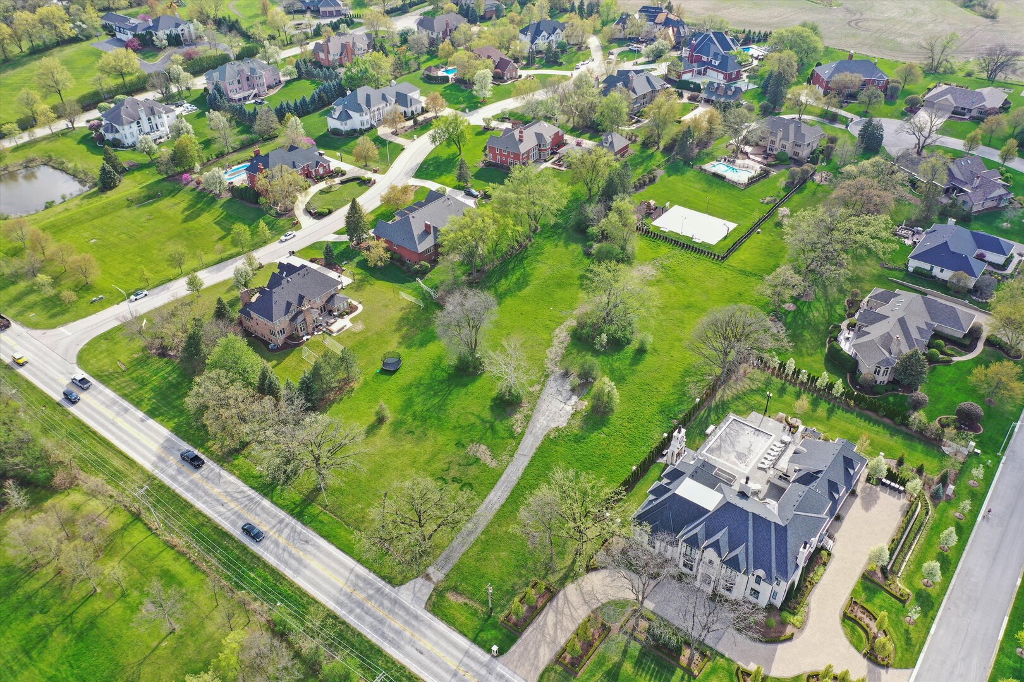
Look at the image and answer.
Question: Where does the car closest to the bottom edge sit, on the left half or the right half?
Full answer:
You can find the car closest to the bottom edge on the left side of the picture.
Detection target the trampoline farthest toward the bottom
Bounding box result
[381,355,402,374]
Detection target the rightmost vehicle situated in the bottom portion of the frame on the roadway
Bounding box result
[242,521,269,543]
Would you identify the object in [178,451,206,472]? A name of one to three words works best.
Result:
truck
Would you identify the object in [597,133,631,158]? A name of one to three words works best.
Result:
house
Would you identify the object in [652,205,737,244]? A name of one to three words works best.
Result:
sports court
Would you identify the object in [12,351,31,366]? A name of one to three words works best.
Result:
car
